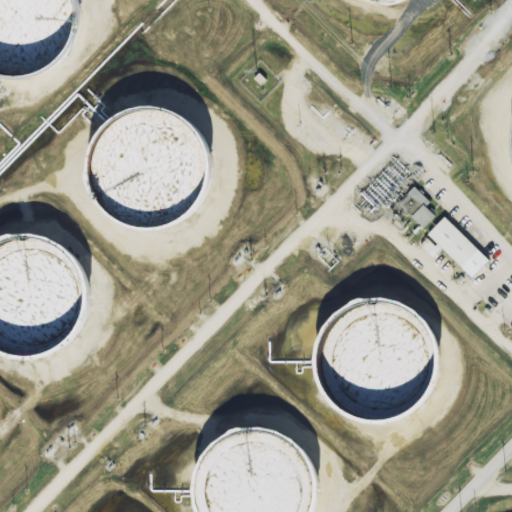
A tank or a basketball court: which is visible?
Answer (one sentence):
I can see a tank in this picture.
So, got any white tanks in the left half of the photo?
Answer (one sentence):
Yes, a white tank can be seen in the left half of the photo.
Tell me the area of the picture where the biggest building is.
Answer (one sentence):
Look in the right portion of the view to spot the biggest building.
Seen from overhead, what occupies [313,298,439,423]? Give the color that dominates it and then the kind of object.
white storage tank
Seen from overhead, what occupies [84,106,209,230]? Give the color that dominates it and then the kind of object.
white storage tank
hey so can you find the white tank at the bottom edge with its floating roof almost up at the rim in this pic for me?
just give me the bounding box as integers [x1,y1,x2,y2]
[191,426,316,512]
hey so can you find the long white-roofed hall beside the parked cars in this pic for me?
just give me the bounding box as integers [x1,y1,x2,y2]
[428,217,489,278]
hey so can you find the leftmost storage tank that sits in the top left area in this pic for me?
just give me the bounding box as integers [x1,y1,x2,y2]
[0,0,77,80]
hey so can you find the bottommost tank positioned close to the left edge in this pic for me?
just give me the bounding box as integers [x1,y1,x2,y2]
[0,234,86,358]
